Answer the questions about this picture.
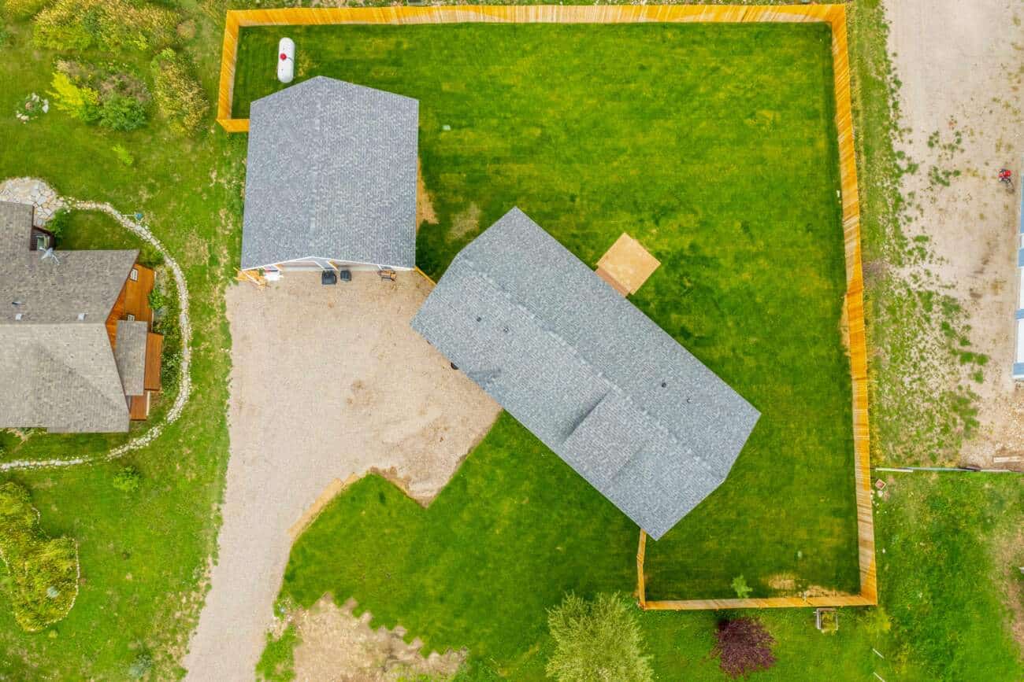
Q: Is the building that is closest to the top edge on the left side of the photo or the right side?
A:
left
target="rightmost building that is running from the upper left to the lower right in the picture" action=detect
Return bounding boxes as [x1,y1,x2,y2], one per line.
[410,206,763,541]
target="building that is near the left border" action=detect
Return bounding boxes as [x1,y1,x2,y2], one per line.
[0,202,149,432]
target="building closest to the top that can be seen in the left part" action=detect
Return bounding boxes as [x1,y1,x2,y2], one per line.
[241,75,420,272]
